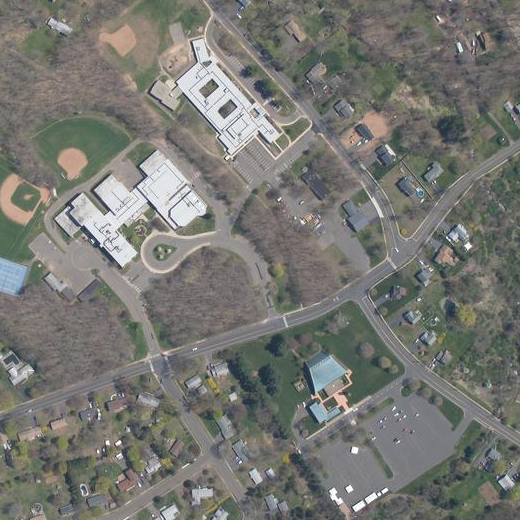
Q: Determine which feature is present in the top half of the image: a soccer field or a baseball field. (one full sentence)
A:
The one visible in the top half of the image is a baseball field.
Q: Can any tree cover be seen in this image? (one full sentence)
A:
Yes, there's tree cover in this view.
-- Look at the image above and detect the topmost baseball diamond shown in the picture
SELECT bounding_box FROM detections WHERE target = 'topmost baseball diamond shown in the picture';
[31,116,131,184]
